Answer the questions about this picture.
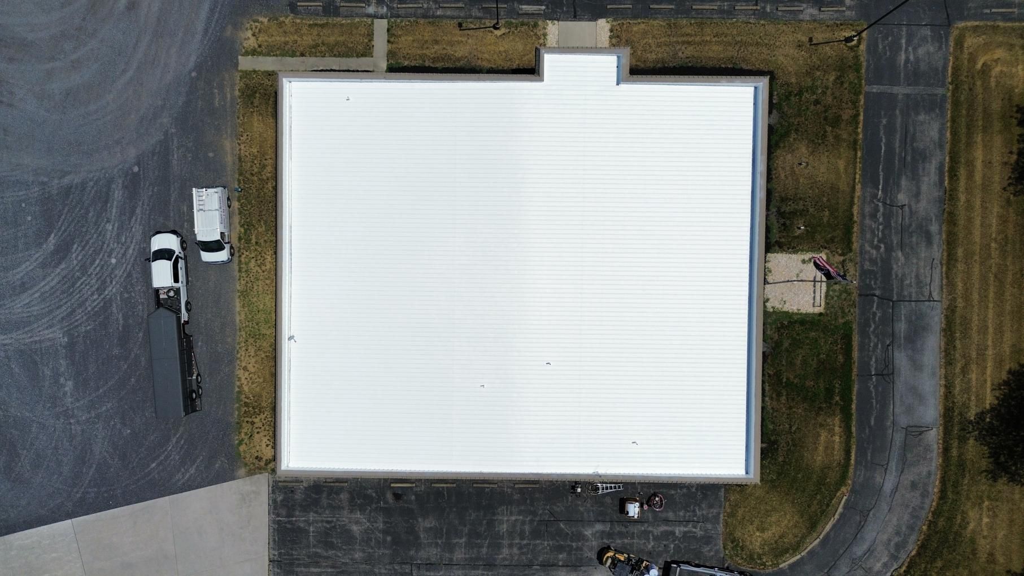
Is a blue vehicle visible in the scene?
No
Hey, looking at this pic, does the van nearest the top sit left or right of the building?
left of it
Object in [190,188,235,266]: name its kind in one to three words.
van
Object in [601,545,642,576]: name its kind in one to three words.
work vehicle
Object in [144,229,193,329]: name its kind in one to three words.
truck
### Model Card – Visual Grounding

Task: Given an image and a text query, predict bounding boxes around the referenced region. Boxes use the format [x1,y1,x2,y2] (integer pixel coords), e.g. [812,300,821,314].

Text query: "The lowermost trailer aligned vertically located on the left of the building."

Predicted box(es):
[145,305,205,417]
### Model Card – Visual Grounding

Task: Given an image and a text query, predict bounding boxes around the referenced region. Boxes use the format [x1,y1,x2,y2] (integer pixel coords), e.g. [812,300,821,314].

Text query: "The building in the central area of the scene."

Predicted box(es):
[275,46,769,484]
